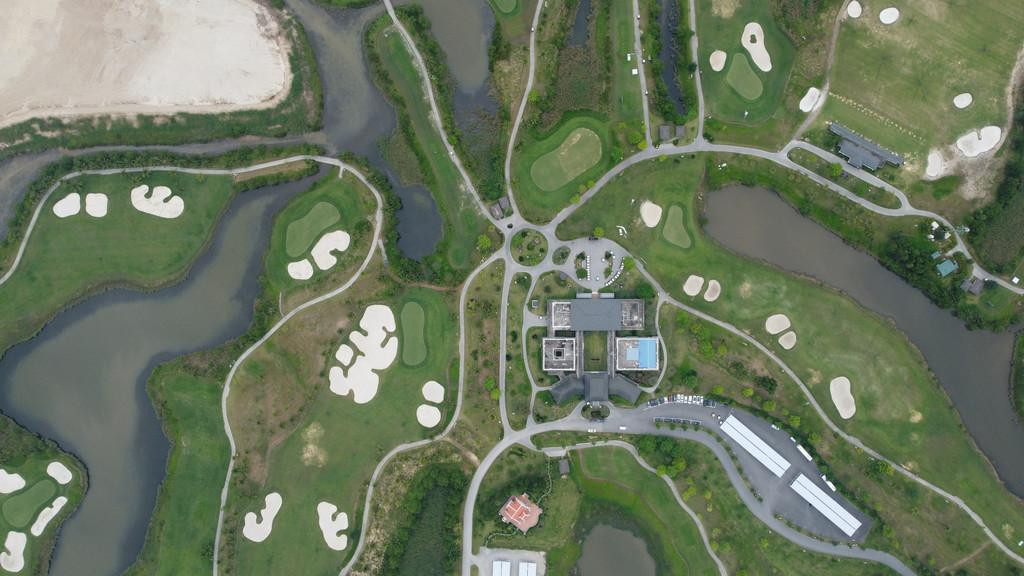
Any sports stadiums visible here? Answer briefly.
No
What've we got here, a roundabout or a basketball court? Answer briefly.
roundabout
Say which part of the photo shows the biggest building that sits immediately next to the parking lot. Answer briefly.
center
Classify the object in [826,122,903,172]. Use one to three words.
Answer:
building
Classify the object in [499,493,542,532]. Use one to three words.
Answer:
house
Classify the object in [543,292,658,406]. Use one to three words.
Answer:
building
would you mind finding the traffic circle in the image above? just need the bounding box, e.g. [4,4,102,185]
[505,221,555,271]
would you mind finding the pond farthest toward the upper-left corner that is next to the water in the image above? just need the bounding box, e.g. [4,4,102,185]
[416,0,496,148]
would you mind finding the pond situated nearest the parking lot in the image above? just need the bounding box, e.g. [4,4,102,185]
[578,523,657,576]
